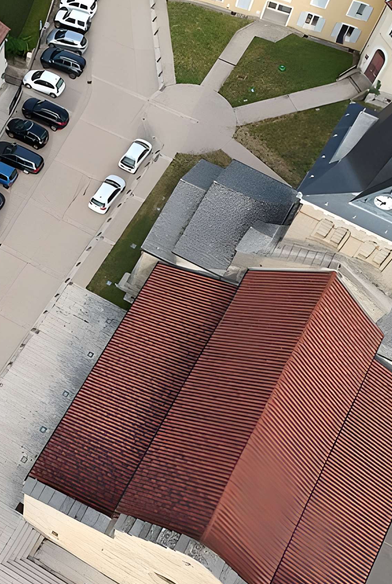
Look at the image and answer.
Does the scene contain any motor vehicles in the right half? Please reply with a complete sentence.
No, no motor vehicle can be made out in the right half.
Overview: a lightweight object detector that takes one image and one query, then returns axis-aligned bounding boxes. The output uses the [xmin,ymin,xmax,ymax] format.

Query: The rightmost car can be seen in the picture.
[115,138,155,176]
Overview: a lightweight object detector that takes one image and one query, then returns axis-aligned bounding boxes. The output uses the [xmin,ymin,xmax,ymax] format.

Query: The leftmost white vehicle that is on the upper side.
[21,71,67,99]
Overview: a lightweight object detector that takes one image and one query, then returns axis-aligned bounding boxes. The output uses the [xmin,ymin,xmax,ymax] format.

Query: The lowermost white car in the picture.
[85,174,127,216]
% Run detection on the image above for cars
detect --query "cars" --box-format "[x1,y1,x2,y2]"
[4,120,50,149]
[20,101,71,130]
[21,71,67,99]
[0,163,20,189]
[0,143,46,175]
[53,8,95,34]
[85,174,127,216]
[39,48,87,77]
[45,30,89,55]
[115,138,155,176]
[59,0,98,18]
